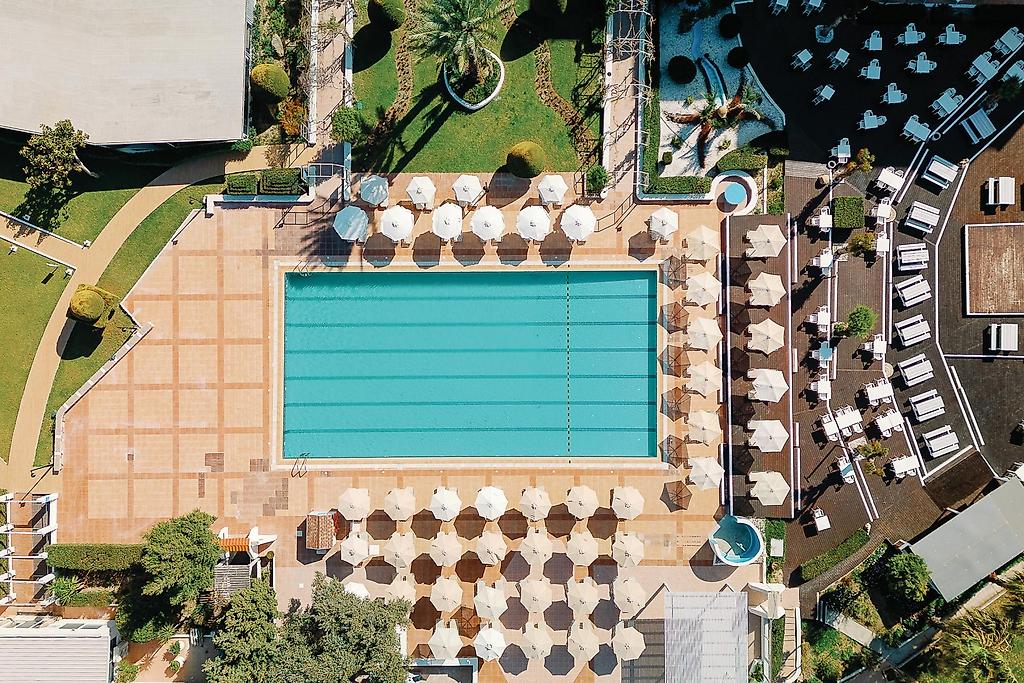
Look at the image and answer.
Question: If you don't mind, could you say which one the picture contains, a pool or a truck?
pool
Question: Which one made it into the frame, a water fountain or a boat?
water fountain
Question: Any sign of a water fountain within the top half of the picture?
Yes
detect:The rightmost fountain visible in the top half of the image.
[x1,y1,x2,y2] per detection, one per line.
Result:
[713,170,761,215]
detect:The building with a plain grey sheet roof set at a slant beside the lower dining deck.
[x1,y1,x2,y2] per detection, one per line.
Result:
[892,463,1024,603]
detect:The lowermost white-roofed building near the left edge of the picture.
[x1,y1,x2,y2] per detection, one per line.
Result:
[0,615,124,683]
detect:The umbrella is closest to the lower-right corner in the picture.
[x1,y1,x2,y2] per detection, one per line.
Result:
[749,470,788,506]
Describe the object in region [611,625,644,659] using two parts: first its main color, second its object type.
white umbrella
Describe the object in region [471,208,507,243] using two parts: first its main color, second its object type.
white umbrella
